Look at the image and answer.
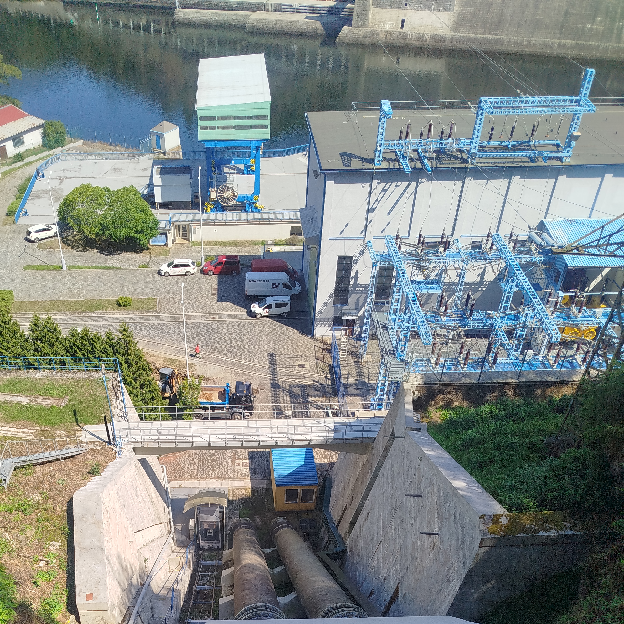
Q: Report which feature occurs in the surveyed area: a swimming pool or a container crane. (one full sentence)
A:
The one in the frame is a container crane.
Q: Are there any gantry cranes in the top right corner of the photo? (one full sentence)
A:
No, I can find no gantry crane in the top right corner of the photo.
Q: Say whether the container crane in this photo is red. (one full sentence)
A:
No, the container crane is actually white.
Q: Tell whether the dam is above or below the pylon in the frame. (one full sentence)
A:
As seen from overhead, the dam falls above the pylon in the picture.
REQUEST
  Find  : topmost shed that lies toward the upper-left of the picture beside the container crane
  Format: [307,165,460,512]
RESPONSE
[151,119,183,156]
